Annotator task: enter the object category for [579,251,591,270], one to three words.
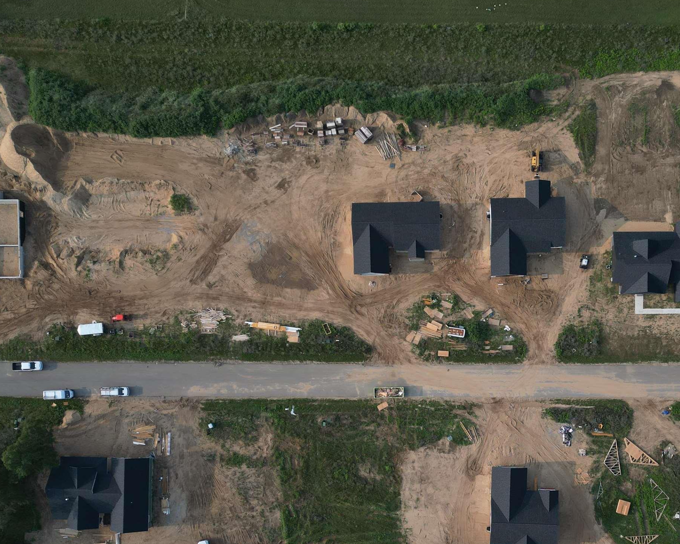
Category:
vehicle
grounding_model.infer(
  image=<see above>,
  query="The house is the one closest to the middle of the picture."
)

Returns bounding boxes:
[349,202,444,274]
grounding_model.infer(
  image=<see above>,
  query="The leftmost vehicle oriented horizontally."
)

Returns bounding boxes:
[12,359,44,373]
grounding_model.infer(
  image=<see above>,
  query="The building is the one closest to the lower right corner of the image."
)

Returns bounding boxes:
[484,467,562,544]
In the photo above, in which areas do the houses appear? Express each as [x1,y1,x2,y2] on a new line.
[349,202,444,274]
[44,457,153,536]
[484,467,562,544]
[484,176,567,276]
[605,219,680,301]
